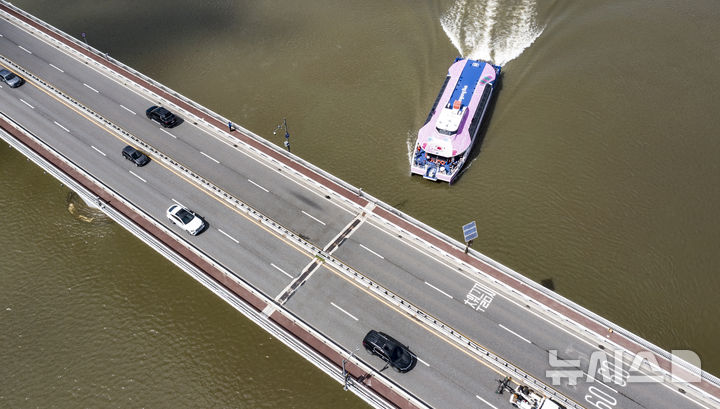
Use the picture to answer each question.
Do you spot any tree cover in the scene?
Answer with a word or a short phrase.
No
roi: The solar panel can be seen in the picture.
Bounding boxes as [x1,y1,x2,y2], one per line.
[463,220,477,252]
